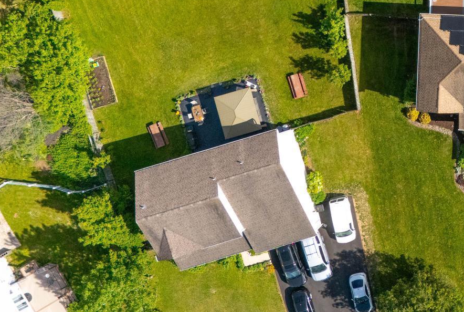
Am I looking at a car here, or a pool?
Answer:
car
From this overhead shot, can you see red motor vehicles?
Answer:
No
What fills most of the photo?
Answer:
grass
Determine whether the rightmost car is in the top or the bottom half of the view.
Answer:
bottom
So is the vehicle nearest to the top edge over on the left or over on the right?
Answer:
right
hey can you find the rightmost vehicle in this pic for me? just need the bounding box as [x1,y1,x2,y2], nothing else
[350,271,374,312]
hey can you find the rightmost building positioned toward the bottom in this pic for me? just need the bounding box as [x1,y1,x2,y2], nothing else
[133,128,319,277]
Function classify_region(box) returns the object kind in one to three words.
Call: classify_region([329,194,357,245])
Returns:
vehicle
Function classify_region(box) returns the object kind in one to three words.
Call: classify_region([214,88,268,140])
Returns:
gazebo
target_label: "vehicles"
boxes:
[276,242,307,288]
[301,230,333,282]
[329,194,357,245]
[350,271,374,312]
[292,288,316,312]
